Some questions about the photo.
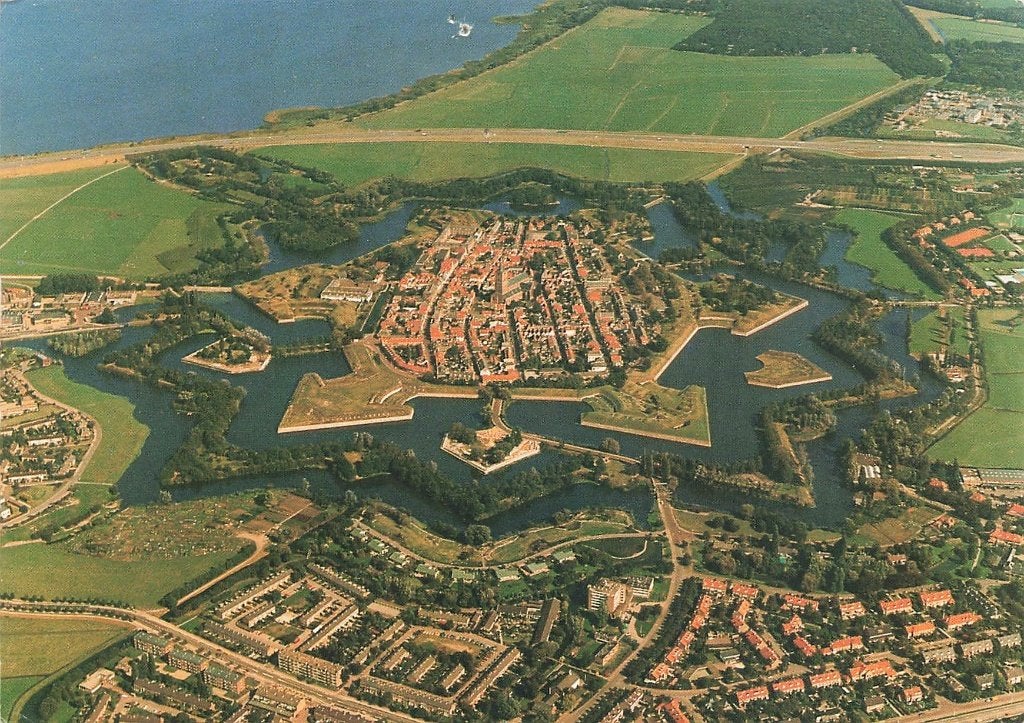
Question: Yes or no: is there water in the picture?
Yes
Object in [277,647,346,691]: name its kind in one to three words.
building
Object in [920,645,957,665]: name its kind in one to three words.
house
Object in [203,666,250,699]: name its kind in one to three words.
building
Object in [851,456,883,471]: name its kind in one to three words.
house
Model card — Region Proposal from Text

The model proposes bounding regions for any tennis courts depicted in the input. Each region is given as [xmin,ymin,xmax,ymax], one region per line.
[945,227,990,247]
[956,247,994,256]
